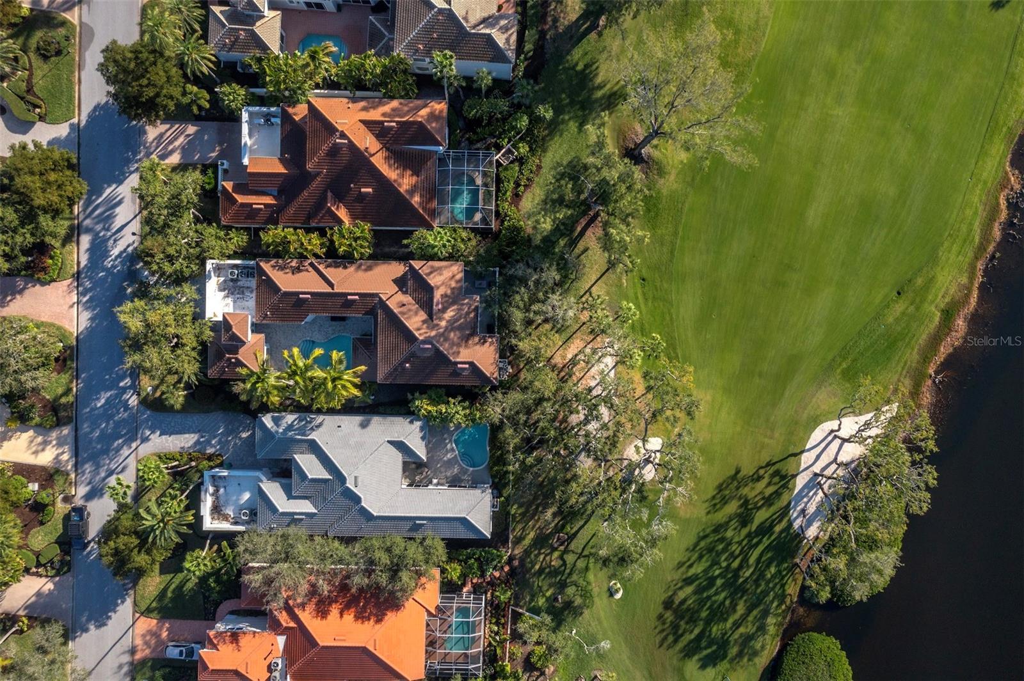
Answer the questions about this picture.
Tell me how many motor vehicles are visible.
two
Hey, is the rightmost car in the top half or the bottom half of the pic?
bottom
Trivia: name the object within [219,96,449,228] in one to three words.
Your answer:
house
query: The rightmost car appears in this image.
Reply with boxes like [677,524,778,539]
[168,640,206,660]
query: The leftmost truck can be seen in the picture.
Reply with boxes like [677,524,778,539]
[67,502,94,549]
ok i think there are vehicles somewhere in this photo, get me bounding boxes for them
[67,502,94,549]
[168,640,206,660]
